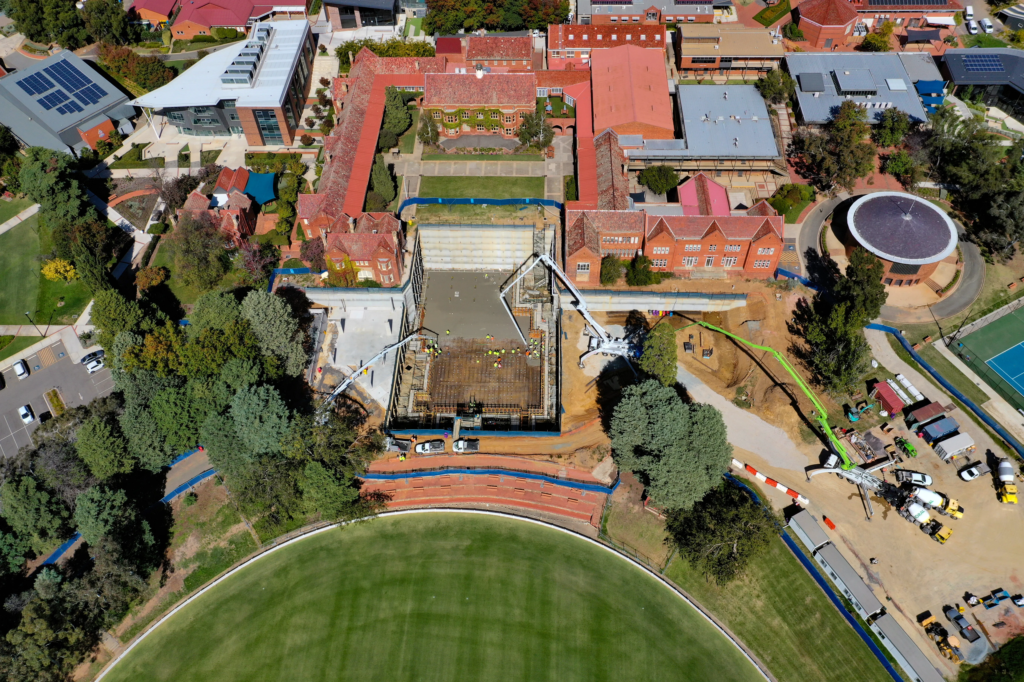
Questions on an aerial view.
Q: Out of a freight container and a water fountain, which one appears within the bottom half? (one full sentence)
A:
There is a freight container within the bottom half.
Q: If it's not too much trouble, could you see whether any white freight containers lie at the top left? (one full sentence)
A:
No, no white freight container appears at the top left.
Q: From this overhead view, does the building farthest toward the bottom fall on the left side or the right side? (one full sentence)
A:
You can find the building farthest toward the bottom on the right side of the picture.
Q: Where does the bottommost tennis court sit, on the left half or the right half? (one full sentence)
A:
The bottommost tennis court is on the right side of the image.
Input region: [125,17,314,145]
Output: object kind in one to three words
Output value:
building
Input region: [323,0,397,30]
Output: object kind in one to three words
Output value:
building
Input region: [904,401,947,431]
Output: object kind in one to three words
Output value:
shipping container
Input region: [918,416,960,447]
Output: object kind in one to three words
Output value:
shipping container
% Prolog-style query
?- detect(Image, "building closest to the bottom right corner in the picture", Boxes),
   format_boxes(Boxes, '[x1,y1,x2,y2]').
[869,613,944,682]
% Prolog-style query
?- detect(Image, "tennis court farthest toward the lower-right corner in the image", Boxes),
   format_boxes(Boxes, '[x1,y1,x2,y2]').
[948,298,1024,411]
